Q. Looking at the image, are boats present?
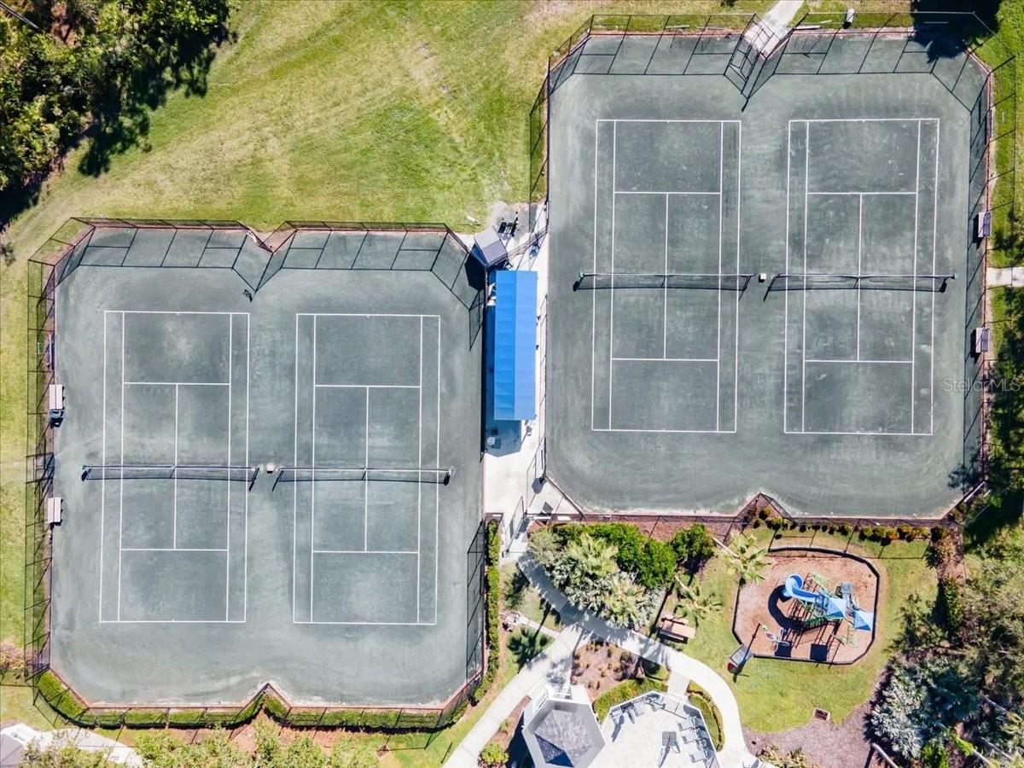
No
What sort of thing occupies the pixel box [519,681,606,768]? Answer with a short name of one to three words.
building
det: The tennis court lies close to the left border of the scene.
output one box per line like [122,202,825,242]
[51,228,271,707]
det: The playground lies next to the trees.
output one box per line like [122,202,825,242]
[733,548,880,666]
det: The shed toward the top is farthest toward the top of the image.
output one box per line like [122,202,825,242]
[474,227,508,269]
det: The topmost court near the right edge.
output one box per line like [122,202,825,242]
[760,34,989,518]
